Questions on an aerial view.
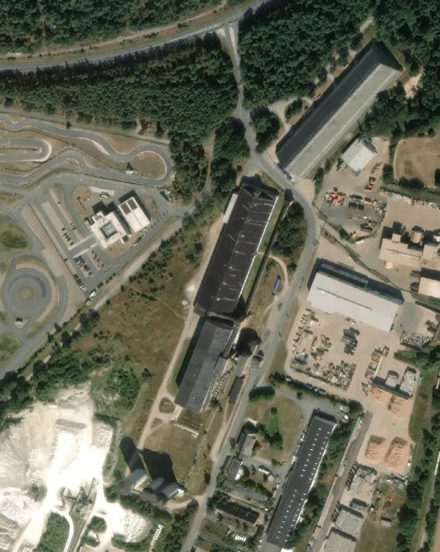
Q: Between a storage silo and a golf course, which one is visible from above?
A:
storage silo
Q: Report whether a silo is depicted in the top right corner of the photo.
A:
No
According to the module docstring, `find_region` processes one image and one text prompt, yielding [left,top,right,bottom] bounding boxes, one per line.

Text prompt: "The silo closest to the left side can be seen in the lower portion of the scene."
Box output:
[118,467,150,499]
